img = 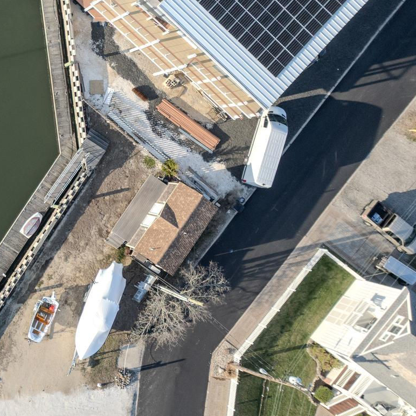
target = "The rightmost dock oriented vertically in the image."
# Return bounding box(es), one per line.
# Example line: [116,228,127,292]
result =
[40,0,77,153]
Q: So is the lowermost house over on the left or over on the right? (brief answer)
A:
right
